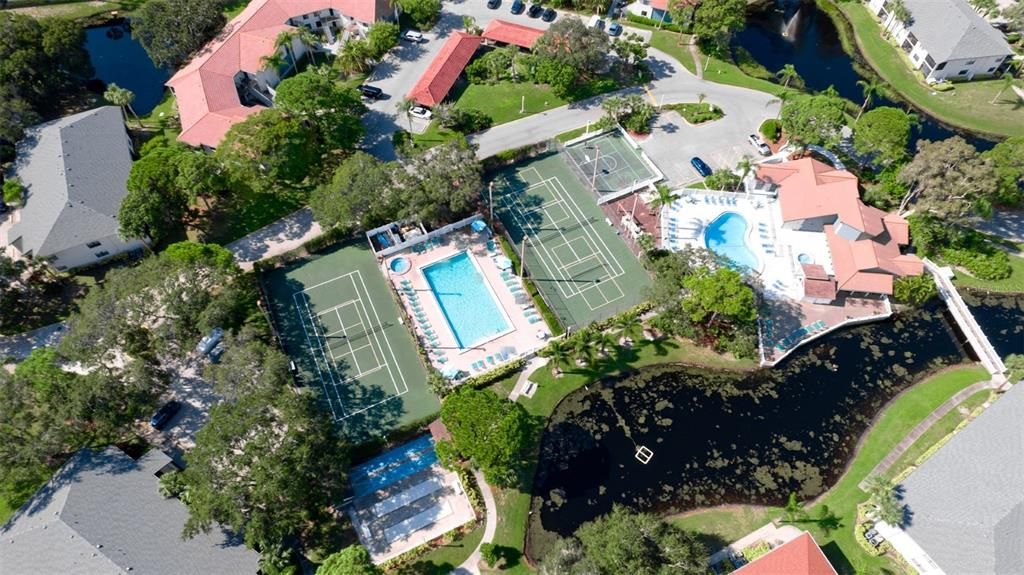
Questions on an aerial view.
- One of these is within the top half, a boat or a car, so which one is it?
car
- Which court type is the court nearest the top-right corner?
basketball court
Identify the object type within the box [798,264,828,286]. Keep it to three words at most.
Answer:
shed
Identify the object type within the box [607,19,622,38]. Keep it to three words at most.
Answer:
vehicle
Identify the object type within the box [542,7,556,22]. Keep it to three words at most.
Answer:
car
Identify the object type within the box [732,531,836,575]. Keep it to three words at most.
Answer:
building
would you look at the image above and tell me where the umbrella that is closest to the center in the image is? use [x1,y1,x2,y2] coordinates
[496,258,511,273]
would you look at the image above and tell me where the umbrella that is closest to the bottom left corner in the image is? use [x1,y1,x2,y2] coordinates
[443,367,460,383]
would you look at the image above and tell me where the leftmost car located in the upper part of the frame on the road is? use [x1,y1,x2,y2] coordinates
[358,81,383,98]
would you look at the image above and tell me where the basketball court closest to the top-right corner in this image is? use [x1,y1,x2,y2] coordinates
[561,122,659,200]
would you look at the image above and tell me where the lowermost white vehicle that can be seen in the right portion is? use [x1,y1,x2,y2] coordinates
[748,133,774,157]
